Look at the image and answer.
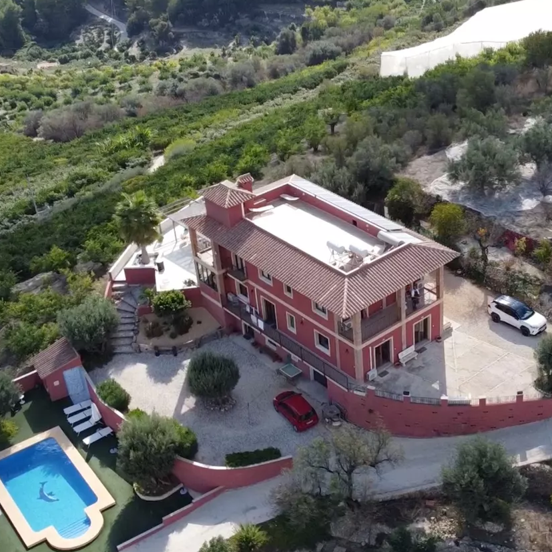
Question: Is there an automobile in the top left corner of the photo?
No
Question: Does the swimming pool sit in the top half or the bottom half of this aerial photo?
bottom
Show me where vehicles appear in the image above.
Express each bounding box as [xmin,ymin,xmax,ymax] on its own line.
[272,390,320,432]
[487,291,551,335]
